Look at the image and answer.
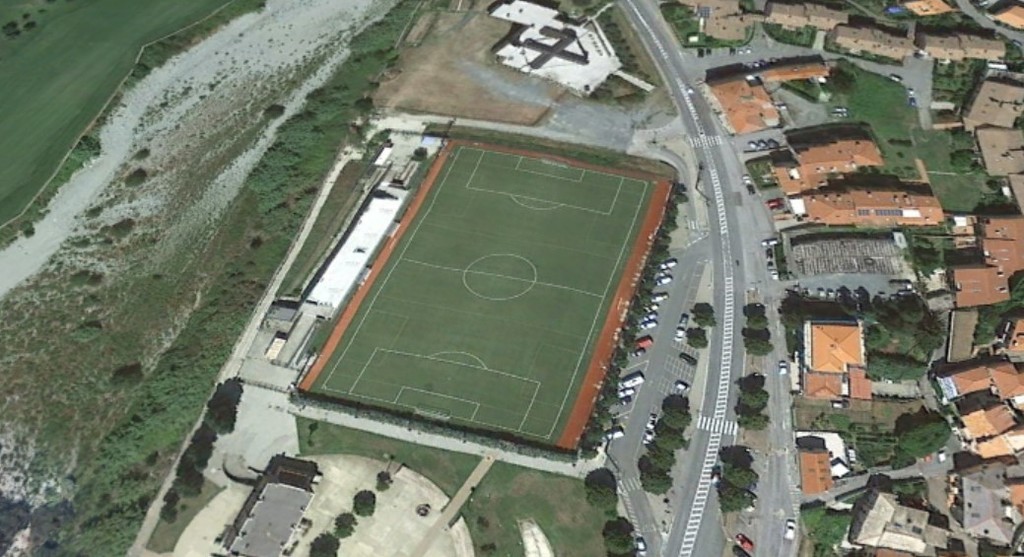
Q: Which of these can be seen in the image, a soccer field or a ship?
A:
soccer field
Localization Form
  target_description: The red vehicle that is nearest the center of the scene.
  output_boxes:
[636,335,654,347]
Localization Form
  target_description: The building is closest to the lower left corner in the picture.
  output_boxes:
[228,459,316,557]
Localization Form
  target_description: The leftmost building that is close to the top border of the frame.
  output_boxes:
[486,0,620,99]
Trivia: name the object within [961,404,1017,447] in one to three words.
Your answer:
house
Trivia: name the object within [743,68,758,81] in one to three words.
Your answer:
vehicle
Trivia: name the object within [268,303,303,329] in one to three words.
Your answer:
building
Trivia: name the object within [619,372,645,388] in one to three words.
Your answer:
vehicle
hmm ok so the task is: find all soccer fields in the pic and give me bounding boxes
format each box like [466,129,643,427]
[298,138,674,452]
